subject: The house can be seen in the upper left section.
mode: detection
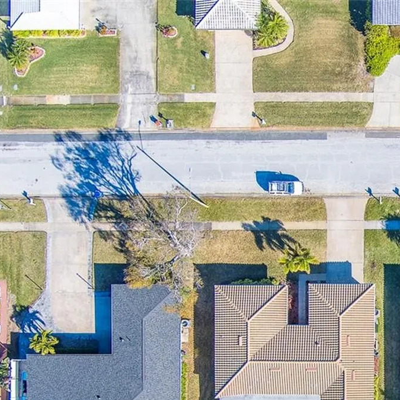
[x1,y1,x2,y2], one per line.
[9,0,84,32]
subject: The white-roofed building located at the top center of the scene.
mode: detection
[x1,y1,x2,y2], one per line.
[193,0,262,33]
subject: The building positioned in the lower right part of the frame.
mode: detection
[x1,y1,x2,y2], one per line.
[213,282,376,400]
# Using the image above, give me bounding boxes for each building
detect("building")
[213,282,376,400]
[9,0,84,32]
[193,0,262,33]
[27,284,184,400]
[371,0,400,29]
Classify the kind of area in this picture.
residential area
